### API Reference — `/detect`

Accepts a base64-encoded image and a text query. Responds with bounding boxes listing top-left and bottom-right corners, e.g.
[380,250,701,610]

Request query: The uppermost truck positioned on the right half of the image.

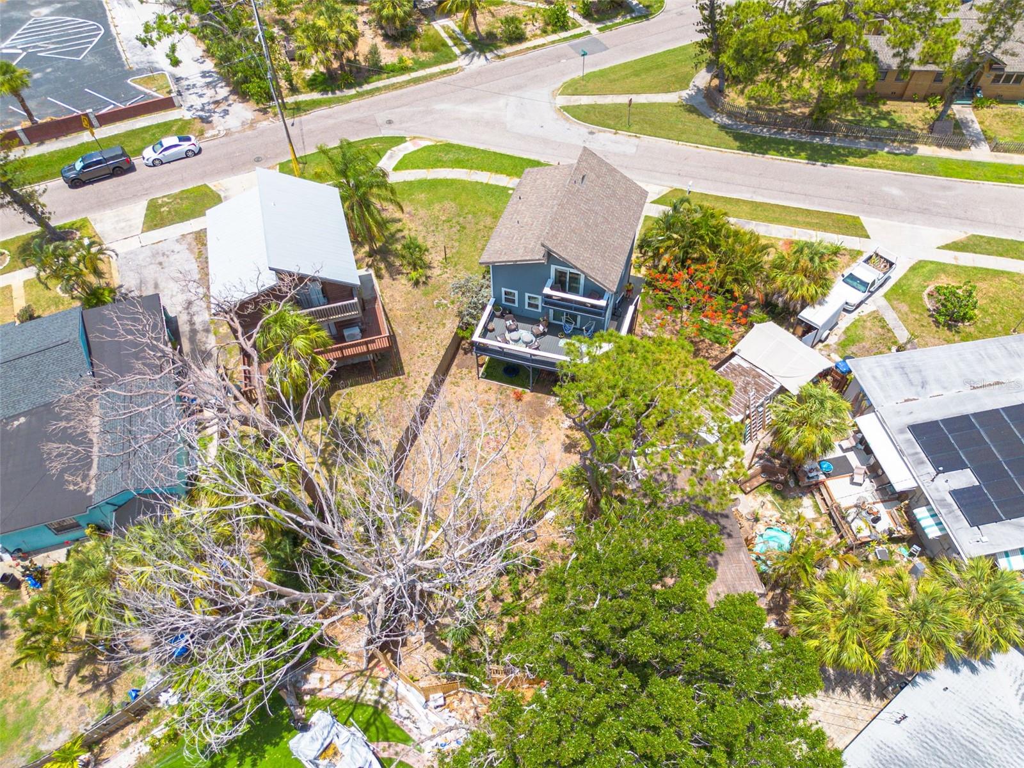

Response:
[839,237,909,317]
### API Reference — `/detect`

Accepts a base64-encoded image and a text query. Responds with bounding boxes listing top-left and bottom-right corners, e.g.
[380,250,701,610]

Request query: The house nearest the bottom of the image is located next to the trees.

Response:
[817,646,1024,768]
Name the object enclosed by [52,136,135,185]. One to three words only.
truck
